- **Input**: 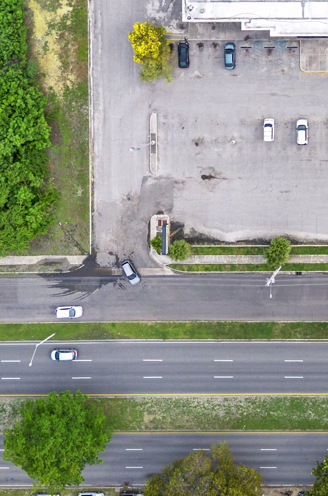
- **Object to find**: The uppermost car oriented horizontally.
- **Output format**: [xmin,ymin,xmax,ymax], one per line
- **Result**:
[55,306,83,319]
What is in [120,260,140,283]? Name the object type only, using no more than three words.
car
